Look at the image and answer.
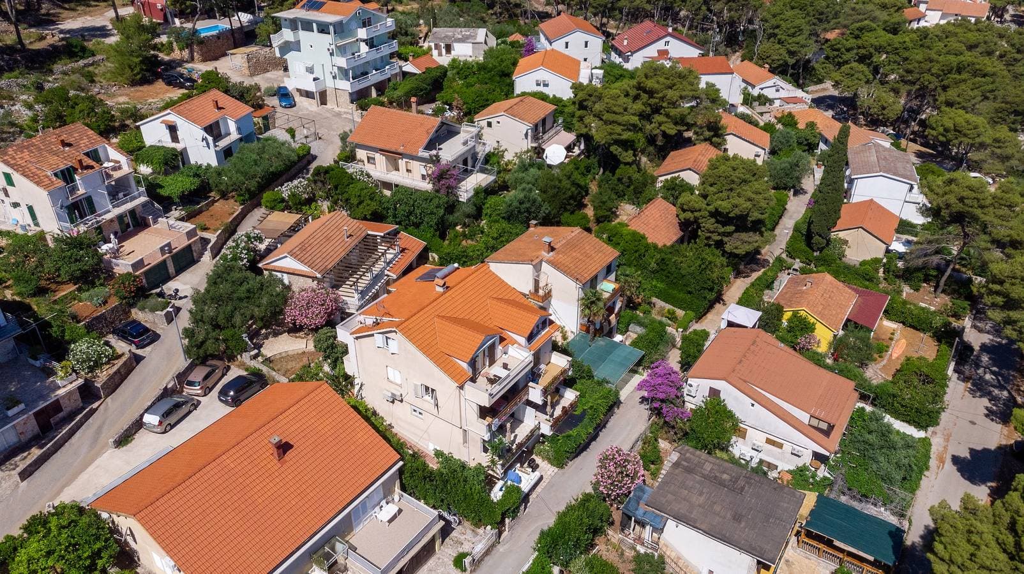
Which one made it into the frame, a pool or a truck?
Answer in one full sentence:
The one in the frame is a pool.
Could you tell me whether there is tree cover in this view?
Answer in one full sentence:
Yes, tree cover shows up in the scene.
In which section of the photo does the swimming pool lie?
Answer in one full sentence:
The swimming pool is in the top left part of the image.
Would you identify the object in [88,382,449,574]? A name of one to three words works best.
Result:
house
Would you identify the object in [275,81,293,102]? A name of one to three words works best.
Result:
car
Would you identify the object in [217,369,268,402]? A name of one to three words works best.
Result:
car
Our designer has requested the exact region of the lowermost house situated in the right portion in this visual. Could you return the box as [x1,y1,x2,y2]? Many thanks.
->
[620,442,806,574]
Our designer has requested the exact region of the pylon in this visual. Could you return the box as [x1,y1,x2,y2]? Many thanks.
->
[706,5,722,56]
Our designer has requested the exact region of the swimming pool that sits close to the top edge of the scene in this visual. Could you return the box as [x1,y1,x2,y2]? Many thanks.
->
[180,18,255,43]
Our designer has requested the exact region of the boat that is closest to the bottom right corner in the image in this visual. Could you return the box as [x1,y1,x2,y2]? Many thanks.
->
[892,339,908,360]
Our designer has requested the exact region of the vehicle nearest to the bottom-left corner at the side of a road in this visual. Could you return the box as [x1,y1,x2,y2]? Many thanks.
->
[139,391,199,429]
